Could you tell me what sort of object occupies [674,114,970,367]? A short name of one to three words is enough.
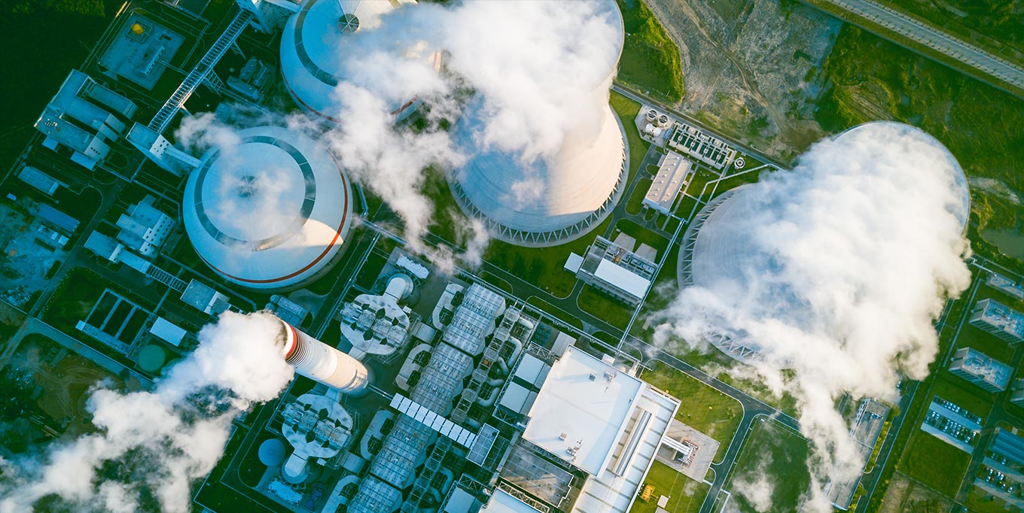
cooling tower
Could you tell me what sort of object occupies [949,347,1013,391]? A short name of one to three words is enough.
building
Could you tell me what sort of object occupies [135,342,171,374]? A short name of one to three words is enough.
storage tank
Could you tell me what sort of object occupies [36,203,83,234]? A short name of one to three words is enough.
shed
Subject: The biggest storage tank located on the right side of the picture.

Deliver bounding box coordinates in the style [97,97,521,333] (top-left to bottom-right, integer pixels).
[667,118,737,173]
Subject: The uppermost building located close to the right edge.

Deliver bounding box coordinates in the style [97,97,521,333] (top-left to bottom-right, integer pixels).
[977,274,1024,309]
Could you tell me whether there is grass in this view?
Yes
